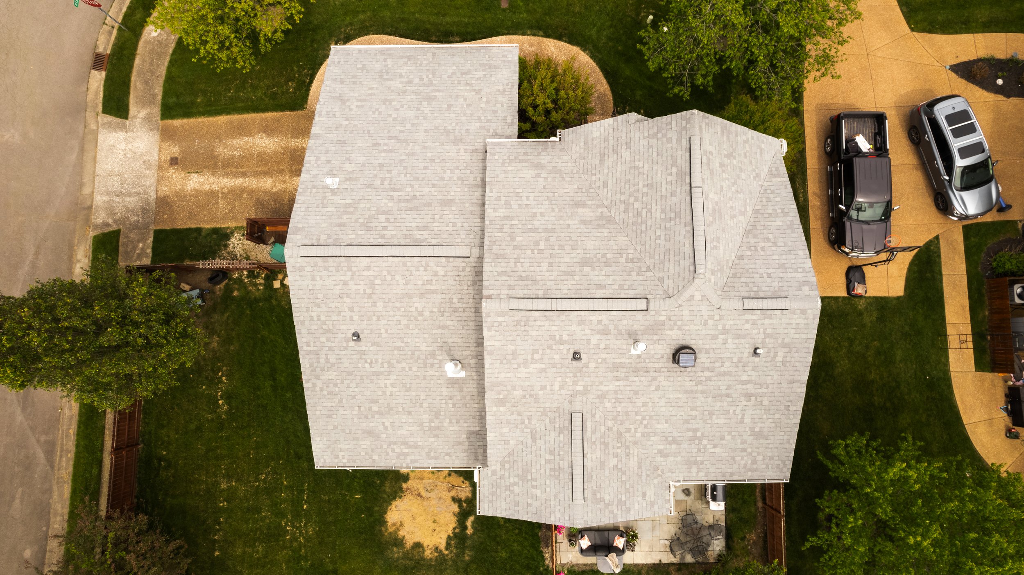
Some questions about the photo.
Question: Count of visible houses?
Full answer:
The picture shows just 1 house.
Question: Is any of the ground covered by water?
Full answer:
No, water can't be seen anywhere here.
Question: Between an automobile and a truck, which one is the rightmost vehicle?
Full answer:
I'd identify the rightmost vehicle as an automobile.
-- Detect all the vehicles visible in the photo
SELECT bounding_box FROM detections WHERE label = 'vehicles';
[908,97,996,221]
[825,113,900,261]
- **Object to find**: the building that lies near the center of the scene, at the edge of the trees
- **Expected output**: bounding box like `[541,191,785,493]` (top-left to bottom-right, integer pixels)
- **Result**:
[285,43,821,526]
